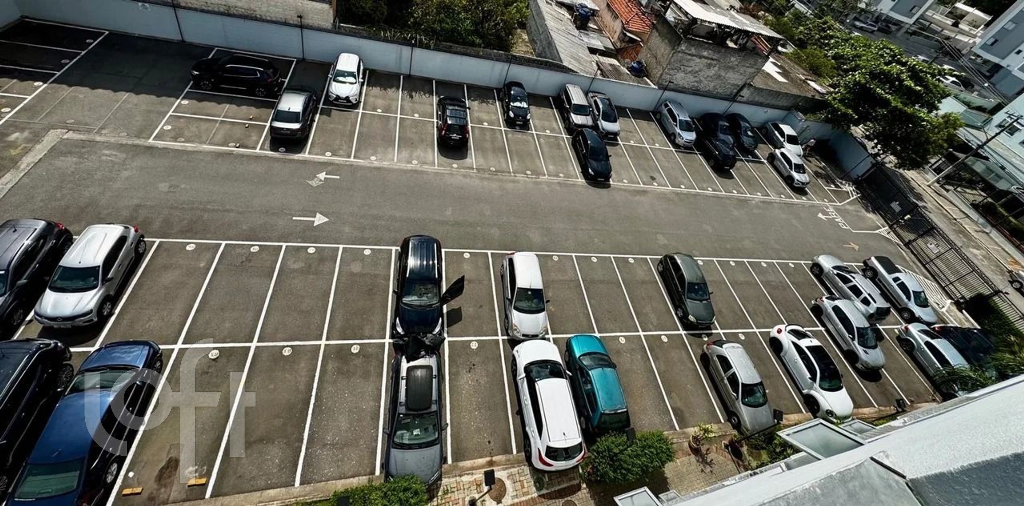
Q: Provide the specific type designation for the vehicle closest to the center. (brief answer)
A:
car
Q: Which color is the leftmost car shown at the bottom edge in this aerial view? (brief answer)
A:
black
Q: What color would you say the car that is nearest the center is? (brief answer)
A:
white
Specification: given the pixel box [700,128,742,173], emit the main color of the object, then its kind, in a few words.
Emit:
black car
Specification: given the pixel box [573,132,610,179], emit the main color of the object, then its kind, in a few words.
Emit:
black car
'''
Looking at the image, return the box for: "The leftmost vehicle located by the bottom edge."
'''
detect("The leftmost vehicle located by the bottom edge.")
[0,339,71,498]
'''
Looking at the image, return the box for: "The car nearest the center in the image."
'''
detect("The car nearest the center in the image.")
[501,255,549,340]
